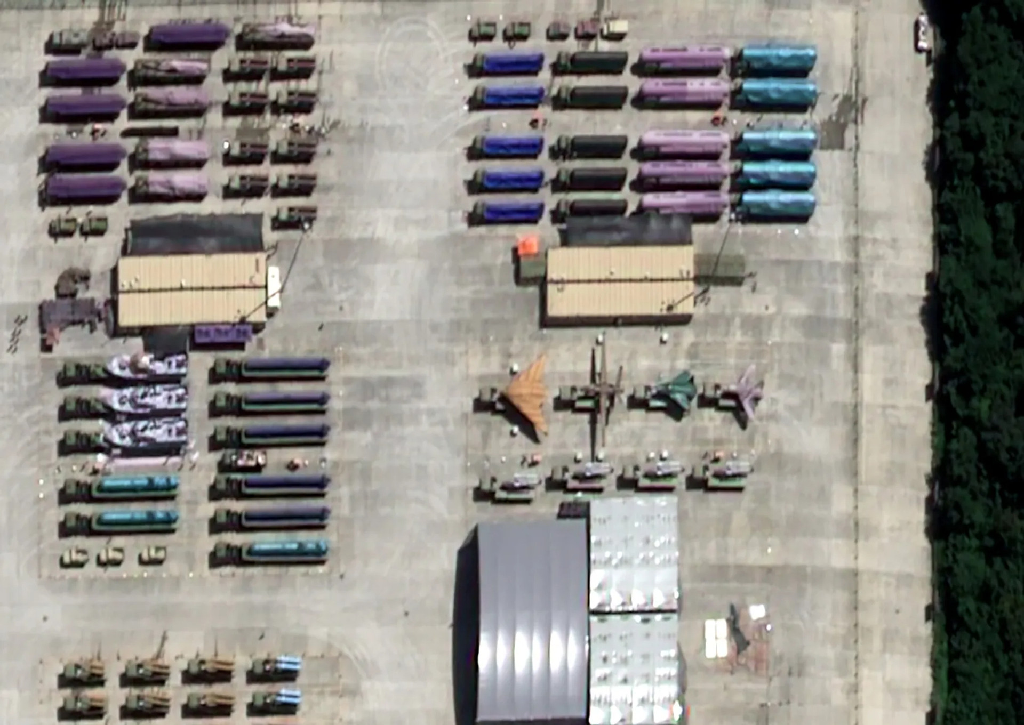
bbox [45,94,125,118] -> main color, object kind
purple truck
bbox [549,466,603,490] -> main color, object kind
gray truck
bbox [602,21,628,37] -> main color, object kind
white car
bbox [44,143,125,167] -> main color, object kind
purple truck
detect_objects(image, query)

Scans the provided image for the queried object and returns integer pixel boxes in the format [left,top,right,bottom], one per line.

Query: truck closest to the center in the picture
[477,387,520,411]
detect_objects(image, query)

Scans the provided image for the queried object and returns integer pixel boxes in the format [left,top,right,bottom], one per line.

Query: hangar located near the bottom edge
[470,519,591,725]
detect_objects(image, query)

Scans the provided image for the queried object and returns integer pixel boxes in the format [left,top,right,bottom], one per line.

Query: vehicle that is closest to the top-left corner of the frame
[50,30,88,50]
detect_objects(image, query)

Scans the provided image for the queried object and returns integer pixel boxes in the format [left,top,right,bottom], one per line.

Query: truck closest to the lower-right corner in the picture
[689,464,744,489]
